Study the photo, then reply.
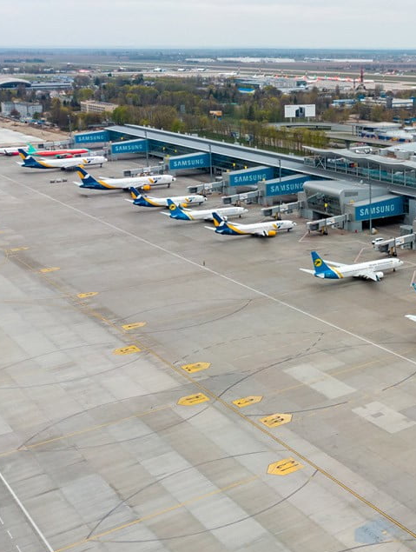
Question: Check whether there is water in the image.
No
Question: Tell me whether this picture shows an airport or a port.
airport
